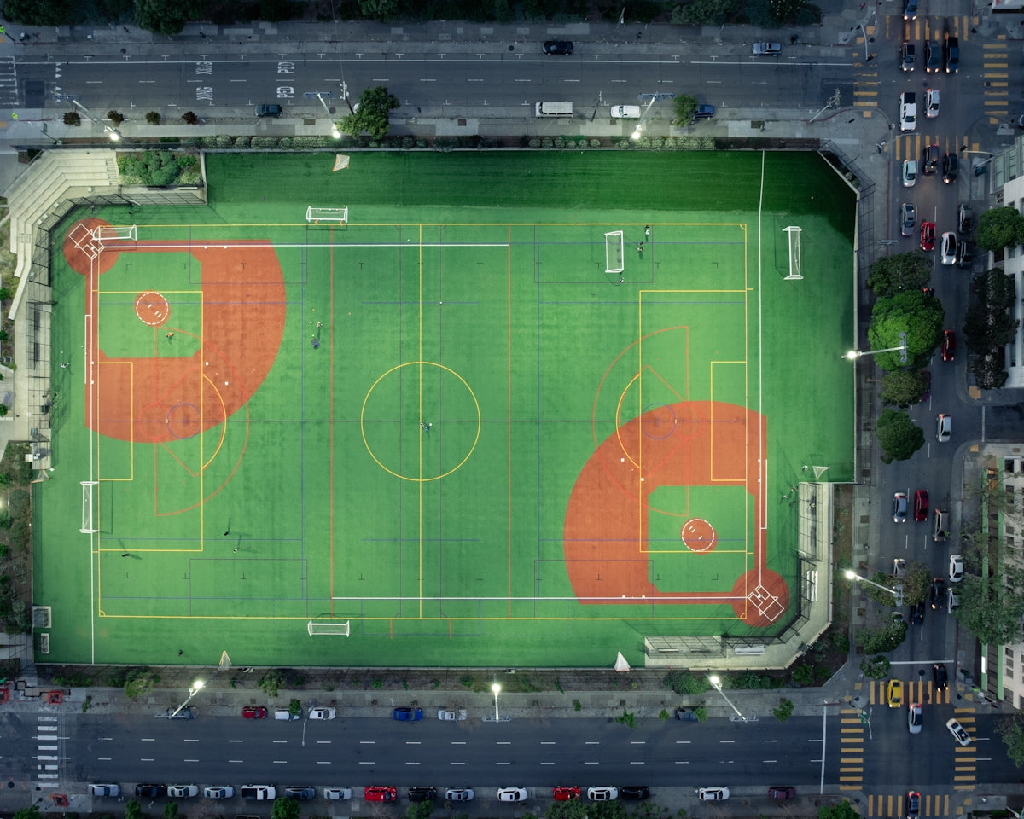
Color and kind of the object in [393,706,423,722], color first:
blue car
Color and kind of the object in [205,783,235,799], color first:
blue car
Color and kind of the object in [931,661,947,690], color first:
black car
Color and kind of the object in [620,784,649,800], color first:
black car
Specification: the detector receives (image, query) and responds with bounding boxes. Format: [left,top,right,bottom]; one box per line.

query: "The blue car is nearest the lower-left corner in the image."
[89,781,122,798]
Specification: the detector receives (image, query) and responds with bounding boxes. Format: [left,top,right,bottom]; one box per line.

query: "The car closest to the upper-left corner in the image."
[255,104,284,119]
